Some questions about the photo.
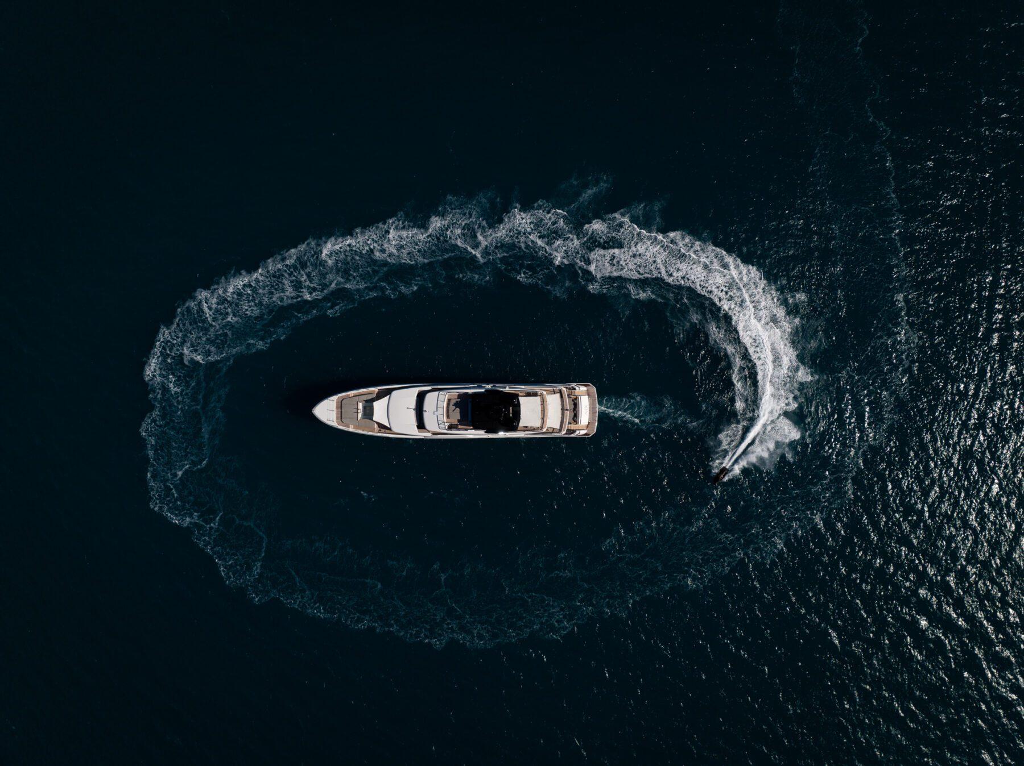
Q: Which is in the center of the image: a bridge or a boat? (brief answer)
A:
boat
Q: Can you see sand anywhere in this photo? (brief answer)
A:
No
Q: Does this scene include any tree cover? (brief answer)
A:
No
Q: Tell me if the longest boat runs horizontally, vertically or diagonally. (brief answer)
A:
horizontally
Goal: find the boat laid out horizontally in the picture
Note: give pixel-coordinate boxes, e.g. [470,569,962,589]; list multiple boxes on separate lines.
[312,383,598,438]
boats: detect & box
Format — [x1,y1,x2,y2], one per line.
[714,466,731,487]
[312,383,598,438]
